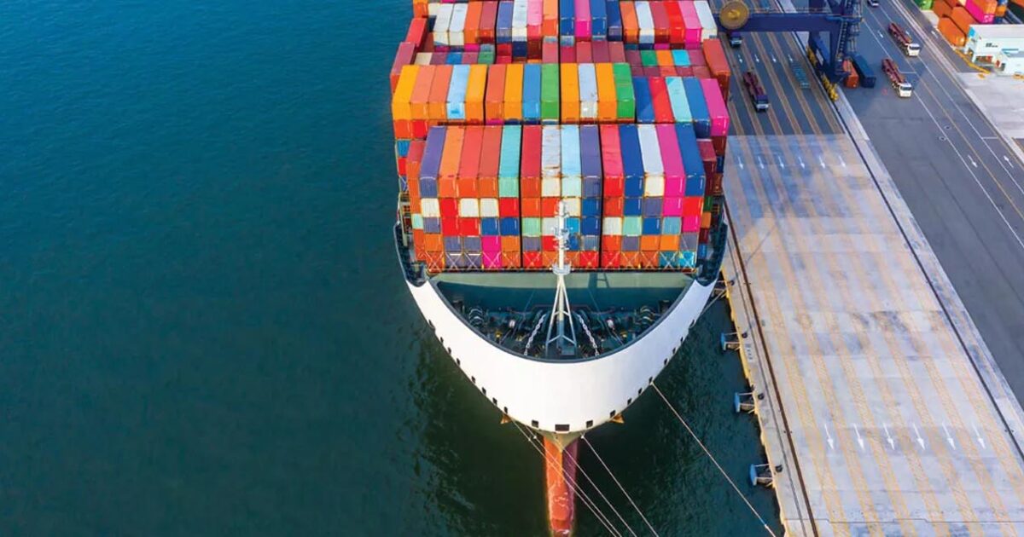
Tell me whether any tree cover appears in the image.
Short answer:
No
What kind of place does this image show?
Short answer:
port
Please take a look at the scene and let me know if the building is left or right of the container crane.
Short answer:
right of it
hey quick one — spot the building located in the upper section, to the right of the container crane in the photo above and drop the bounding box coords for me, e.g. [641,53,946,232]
[964,16,1024,75]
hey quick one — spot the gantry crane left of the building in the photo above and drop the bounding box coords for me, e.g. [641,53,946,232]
[699,0,864,102]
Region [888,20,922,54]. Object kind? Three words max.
truck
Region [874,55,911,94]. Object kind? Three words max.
truck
